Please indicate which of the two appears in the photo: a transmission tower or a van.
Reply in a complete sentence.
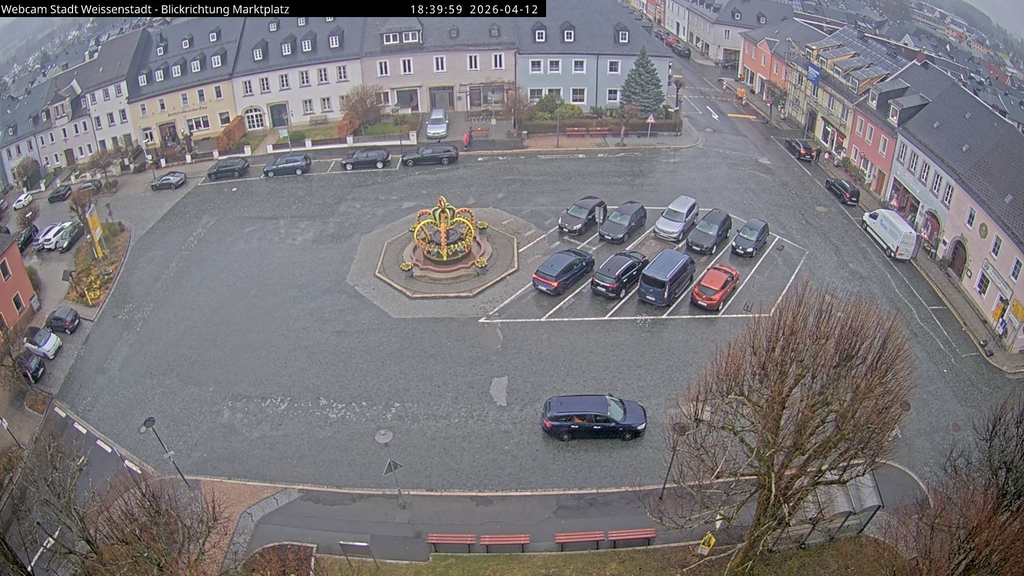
It is a van that can be seen here.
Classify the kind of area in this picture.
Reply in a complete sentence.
It's a residential area.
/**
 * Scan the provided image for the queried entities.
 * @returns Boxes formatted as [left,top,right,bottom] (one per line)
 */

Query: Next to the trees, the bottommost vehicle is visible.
[540,398,649,450]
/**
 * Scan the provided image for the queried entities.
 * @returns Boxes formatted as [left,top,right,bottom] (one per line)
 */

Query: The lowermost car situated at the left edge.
[16,351,51,391]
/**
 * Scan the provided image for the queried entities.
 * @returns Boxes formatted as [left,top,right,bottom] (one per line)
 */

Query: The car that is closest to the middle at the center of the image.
[527,245,601,300]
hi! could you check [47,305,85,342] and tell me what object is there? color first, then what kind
gray car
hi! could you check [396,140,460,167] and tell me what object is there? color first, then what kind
gray car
